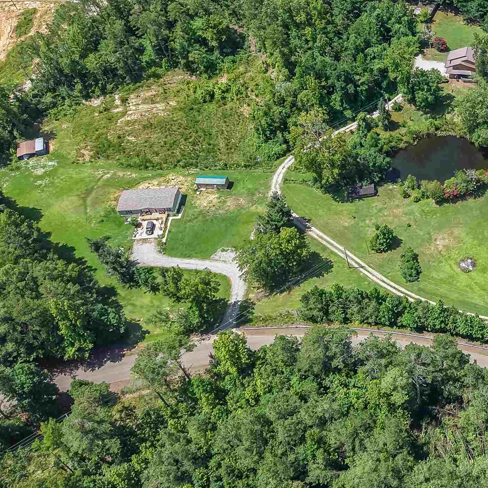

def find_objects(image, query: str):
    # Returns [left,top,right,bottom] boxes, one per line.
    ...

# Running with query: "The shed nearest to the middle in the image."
[195,175,230,193]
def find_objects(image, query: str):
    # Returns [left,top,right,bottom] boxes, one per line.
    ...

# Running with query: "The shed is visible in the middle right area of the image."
[349,184,376,200]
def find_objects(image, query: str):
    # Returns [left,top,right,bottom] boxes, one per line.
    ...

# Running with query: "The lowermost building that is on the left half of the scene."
[116,186,182,234]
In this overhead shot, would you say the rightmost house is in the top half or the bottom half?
top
